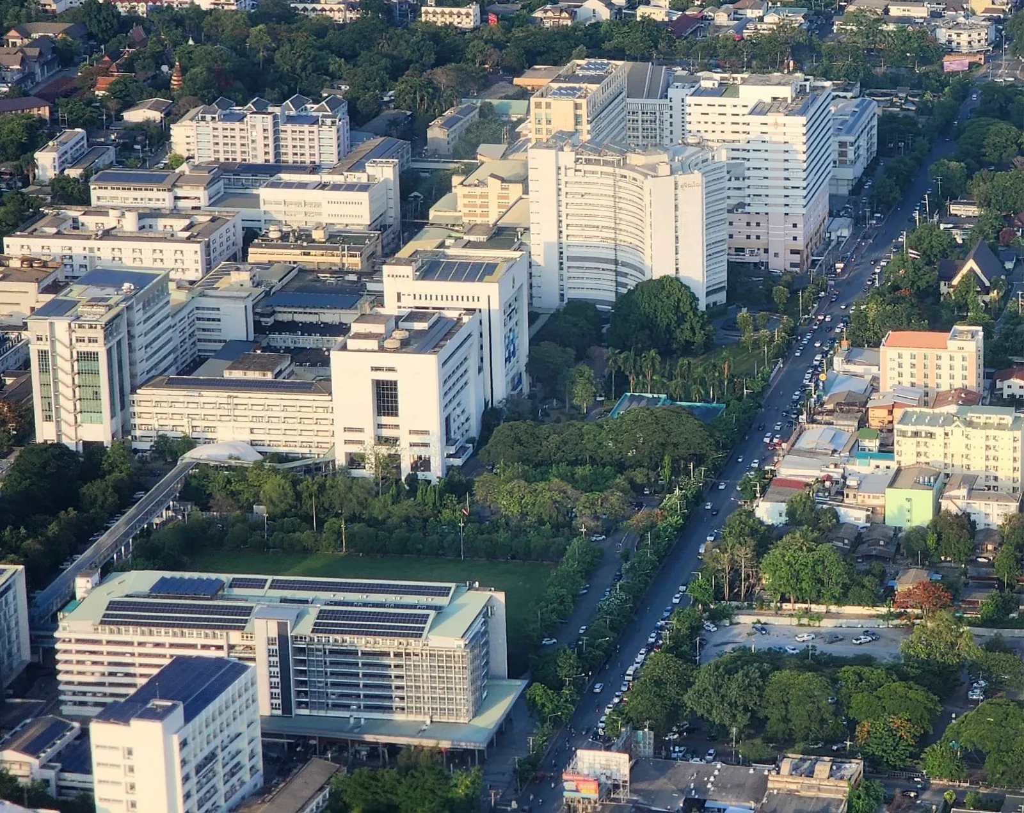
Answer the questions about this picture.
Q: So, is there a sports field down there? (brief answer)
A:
Yes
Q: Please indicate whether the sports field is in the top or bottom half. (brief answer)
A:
bottom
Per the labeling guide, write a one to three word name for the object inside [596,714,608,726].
vehicle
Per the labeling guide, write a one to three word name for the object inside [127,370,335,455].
building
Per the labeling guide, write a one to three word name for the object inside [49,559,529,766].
building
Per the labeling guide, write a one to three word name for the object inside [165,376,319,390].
solar array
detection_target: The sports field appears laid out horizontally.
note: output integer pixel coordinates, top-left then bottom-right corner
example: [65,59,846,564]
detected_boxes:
[185,550,571,674]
